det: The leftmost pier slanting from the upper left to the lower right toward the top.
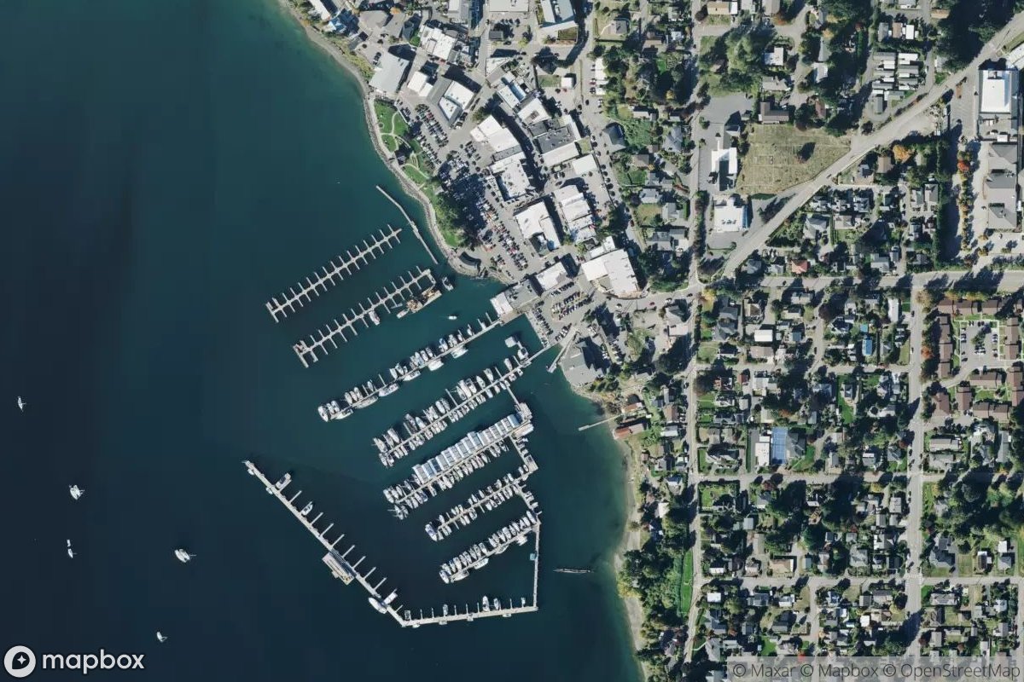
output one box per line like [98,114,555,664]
[376,185,438,264]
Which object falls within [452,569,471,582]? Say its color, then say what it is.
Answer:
white boat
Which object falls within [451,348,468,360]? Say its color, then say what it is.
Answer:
white boat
